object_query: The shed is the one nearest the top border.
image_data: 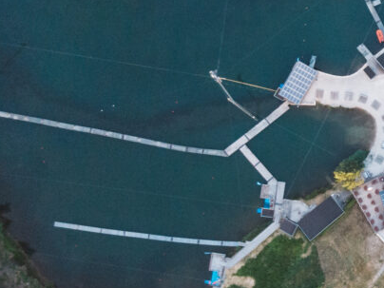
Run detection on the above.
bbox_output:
[274,57,319,105]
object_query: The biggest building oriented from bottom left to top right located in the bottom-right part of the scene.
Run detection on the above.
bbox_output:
[297,195,345,240]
